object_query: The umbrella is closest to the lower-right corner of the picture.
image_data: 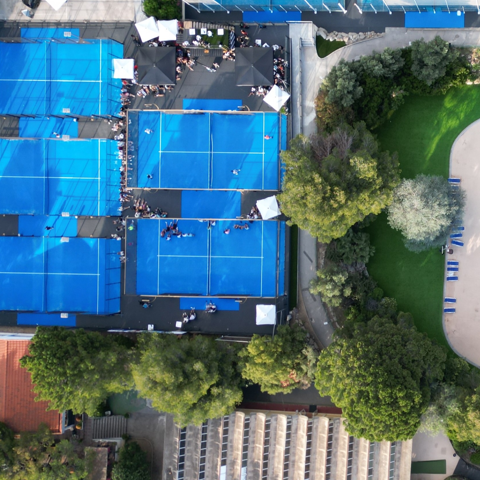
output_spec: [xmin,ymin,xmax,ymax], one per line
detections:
[257,305,275,324]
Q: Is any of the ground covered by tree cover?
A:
Yes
